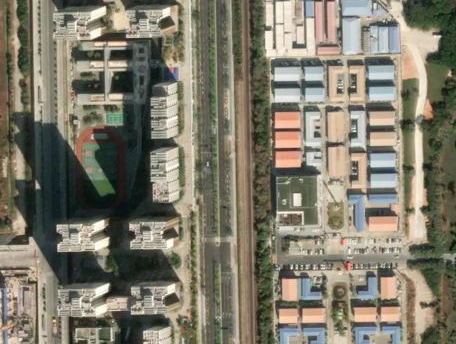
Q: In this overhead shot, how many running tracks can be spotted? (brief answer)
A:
one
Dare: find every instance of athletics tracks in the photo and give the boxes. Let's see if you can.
[75,126,126,208]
